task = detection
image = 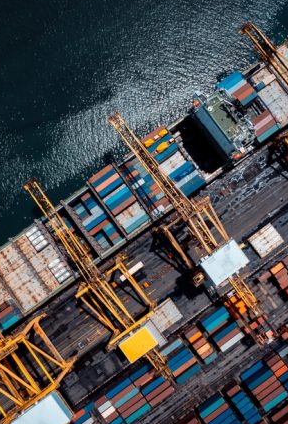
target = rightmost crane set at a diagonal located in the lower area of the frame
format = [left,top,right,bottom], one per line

[223,290,277,348]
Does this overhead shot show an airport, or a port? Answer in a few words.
port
